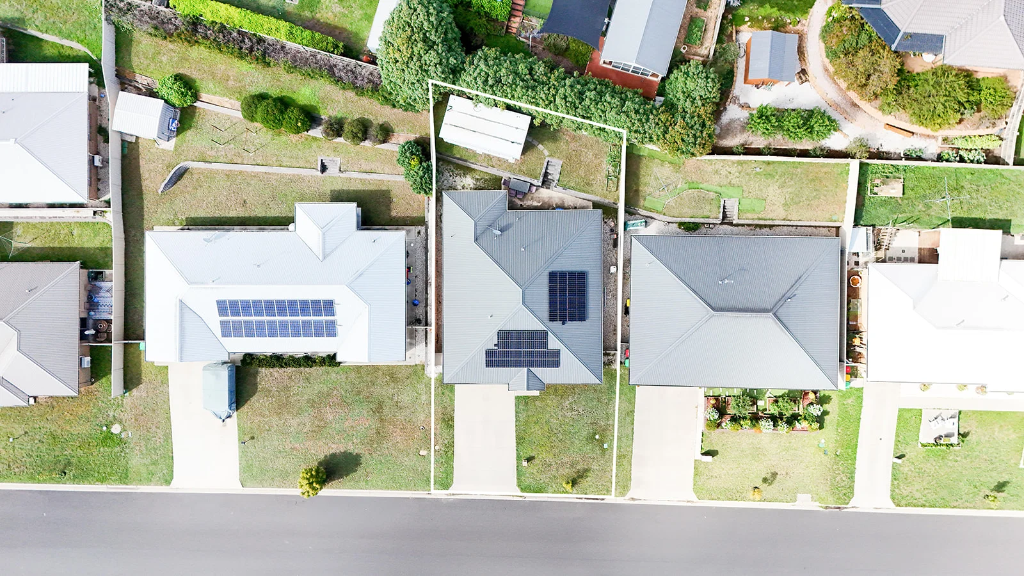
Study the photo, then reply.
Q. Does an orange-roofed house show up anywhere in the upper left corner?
No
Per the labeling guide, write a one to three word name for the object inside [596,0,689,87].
shed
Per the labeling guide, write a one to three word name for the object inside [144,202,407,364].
house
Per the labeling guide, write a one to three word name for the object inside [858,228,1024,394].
house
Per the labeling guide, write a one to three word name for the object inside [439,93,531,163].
shed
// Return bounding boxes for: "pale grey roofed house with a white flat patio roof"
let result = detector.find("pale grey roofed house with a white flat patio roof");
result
[0,61,98,204]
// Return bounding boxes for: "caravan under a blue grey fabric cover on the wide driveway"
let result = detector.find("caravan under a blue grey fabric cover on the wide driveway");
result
[202,363,237,420]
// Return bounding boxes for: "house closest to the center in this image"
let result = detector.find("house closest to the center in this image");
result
[442,190,603,391]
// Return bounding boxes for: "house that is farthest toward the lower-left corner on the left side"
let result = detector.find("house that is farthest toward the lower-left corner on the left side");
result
[0,260,89,407]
